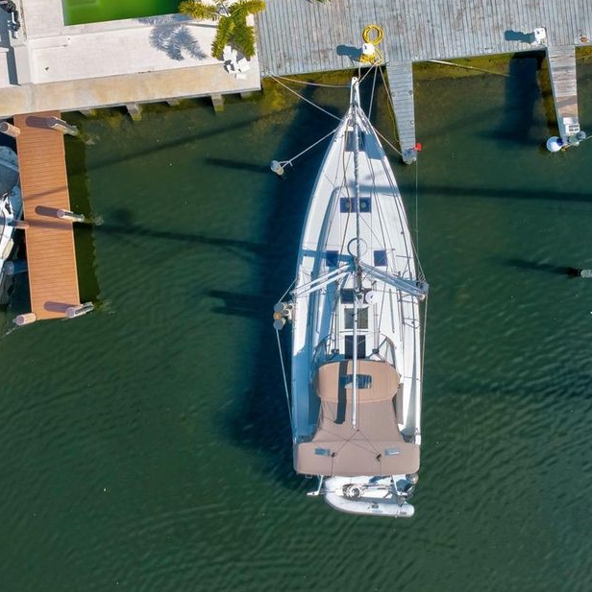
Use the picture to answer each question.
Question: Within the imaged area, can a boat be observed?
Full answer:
Yes, a boat appears in the view.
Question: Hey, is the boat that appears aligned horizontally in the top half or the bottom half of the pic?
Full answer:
It is in the bottom half that the boat that appears aligned horizontally appears.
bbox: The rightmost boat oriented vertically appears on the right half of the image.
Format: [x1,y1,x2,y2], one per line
[290,78,428,496]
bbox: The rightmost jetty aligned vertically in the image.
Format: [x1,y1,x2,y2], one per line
[545,43,580,138]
